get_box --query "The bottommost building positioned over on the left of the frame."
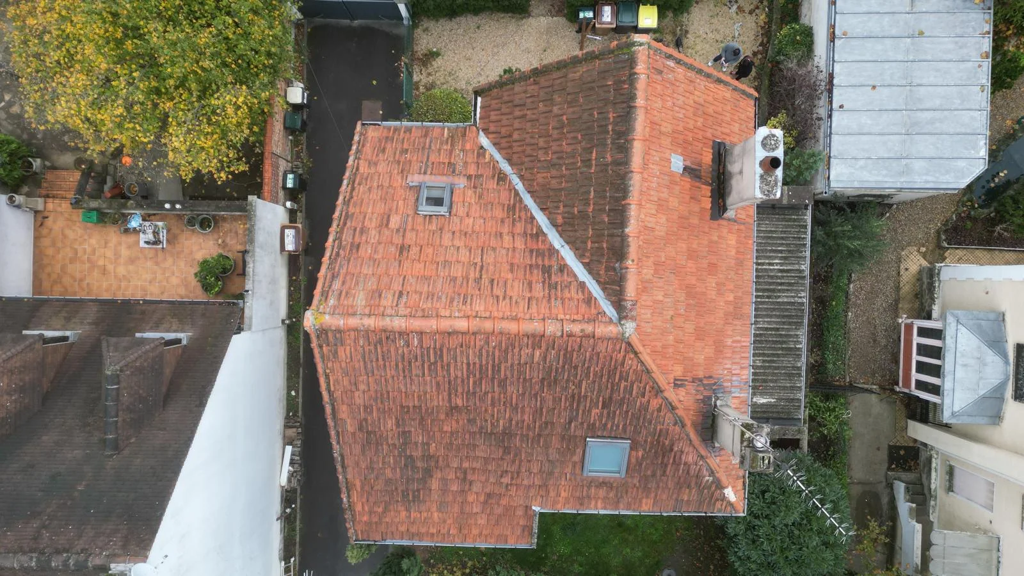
[0,292,285,576]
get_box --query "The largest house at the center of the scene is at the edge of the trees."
[304,22,788,554]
